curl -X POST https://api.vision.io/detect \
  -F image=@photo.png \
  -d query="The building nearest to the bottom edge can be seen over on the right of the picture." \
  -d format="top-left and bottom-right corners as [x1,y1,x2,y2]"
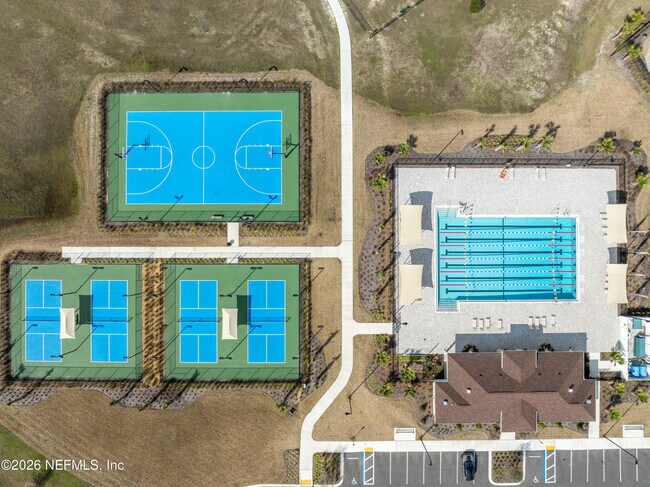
[432,347,597,432]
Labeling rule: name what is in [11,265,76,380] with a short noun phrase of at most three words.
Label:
sports court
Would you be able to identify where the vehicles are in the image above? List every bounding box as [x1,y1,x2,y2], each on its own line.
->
[463,449,478,481]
